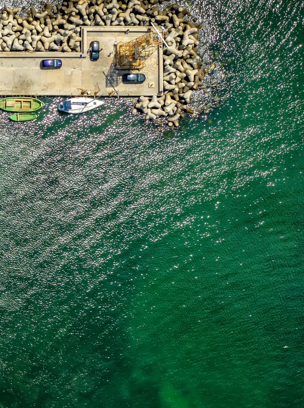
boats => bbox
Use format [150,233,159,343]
[10,113,40,121]
[56,92,105,114]
[0,96,46,113]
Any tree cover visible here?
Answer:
No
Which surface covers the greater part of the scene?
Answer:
water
